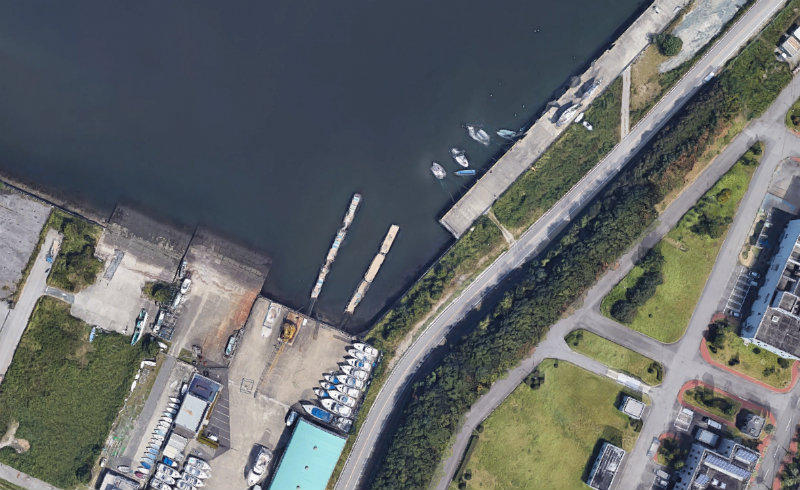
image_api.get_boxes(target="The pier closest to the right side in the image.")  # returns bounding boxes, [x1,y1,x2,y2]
[440,0,691,238]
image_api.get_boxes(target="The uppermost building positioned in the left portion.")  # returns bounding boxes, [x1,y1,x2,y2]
[185,373,227,409]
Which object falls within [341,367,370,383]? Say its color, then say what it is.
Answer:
white boat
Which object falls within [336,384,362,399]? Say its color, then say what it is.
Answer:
white boat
